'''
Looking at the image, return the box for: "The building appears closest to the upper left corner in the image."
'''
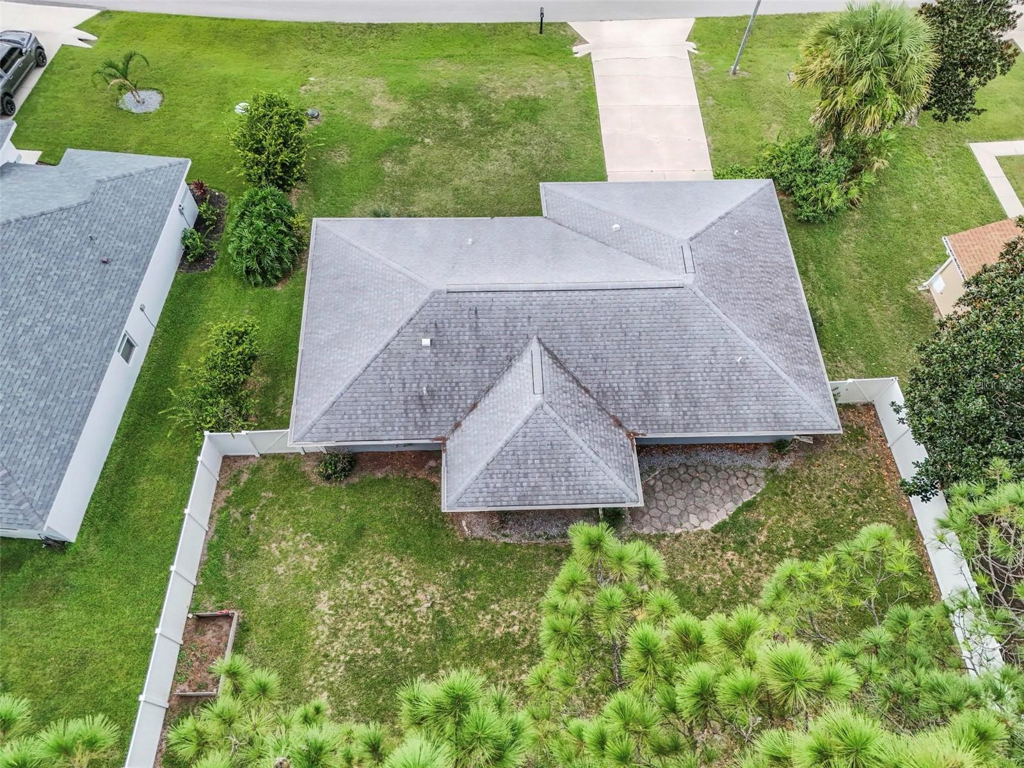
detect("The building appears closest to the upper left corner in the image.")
[0,121,197,541]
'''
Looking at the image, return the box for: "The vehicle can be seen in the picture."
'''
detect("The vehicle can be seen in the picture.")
[0,24,45,116]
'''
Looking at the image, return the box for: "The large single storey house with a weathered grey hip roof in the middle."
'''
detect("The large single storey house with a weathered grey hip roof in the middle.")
[289,179,841,527]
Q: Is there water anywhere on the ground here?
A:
No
